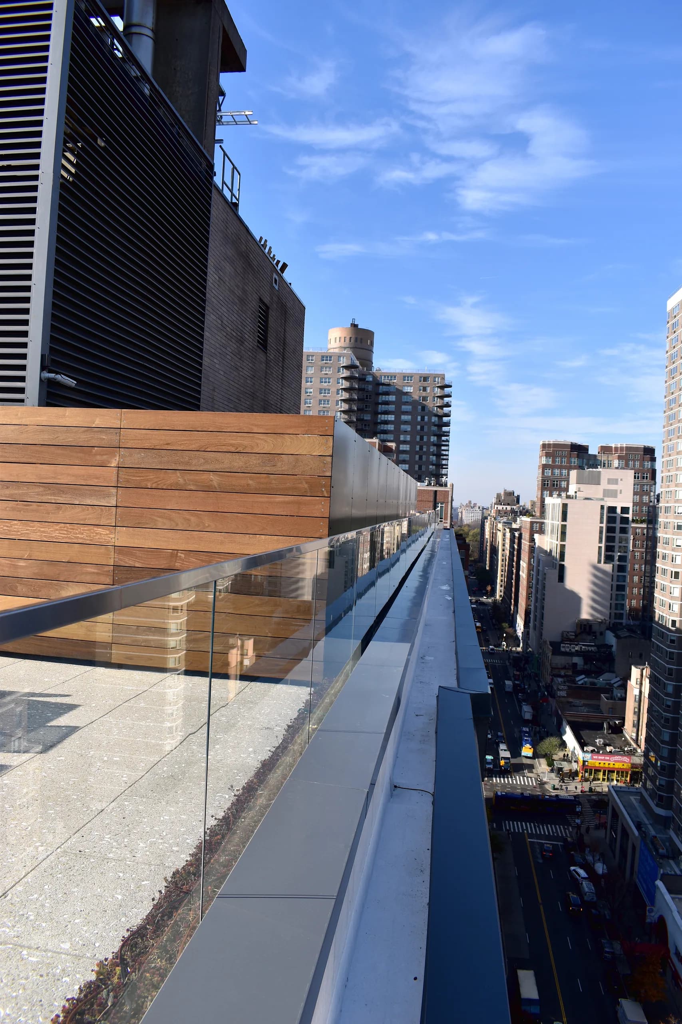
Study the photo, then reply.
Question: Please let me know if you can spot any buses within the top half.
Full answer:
No, the scene shows no bus within the top half.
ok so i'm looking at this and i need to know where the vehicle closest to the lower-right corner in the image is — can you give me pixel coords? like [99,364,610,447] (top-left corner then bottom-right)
[618,995,654,1024]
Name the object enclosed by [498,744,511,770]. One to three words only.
vehicle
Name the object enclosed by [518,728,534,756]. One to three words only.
vehicle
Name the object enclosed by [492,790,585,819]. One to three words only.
bus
